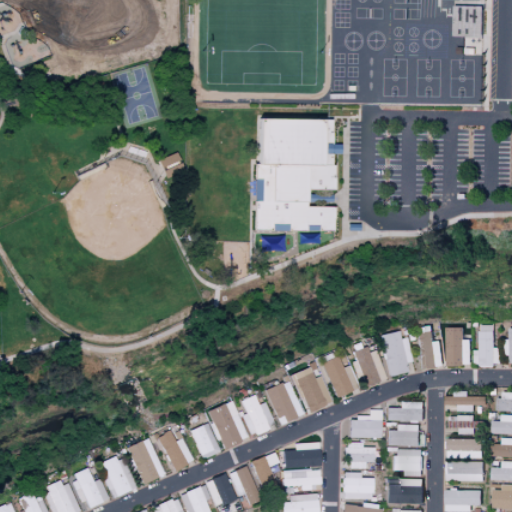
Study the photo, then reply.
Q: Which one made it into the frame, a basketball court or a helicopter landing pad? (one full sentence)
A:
There is a basketball court in the scene.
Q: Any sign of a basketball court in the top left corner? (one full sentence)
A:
Yes, the scene does show a basketball court in the top left corner.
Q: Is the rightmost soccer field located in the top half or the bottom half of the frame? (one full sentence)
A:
The rightmost soccer field is in the top half of the image.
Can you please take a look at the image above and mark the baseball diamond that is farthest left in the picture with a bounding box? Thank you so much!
[0,158,198,342]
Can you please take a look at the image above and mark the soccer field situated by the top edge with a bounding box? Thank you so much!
[200,0,326,92]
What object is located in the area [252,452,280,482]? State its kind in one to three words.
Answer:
house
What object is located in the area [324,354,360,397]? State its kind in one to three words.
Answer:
house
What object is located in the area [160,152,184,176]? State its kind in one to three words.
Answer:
building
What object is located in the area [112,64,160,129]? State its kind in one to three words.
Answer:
basketball court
